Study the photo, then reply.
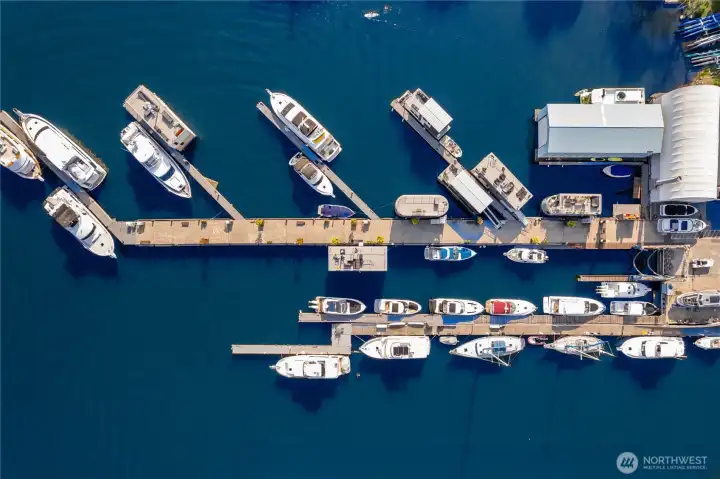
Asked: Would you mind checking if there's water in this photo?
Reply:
Yes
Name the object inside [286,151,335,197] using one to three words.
boat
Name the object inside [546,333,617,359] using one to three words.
boat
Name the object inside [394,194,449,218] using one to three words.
vessel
